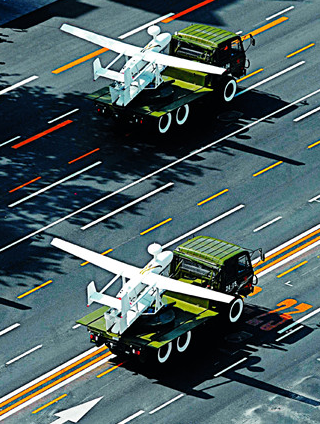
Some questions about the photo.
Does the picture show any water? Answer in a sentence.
No, the scene doesn't show any water.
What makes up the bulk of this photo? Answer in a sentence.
For the most part, this view shows paved ground.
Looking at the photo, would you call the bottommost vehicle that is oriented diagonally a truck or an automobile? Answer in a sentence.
Specifically, the bottommost vehicle that is oriented diagonally is a truck.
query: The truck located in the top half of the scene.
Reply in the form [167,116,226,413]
[87,20,254,133]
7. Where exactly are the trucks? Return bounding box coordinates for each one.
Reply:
[77,231,264,363]
[87,20,254,133]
